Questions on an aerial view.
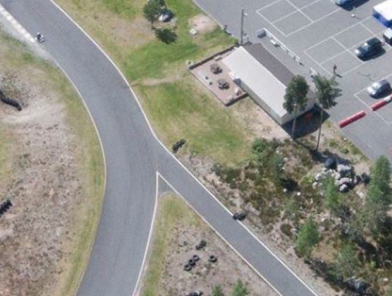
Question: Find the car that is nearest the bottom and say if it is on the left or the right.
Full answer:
It is on the right.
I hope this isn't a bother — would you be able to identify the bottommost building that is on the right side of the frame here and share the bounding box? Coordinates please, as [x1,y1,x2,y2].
[222,45,314,128]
